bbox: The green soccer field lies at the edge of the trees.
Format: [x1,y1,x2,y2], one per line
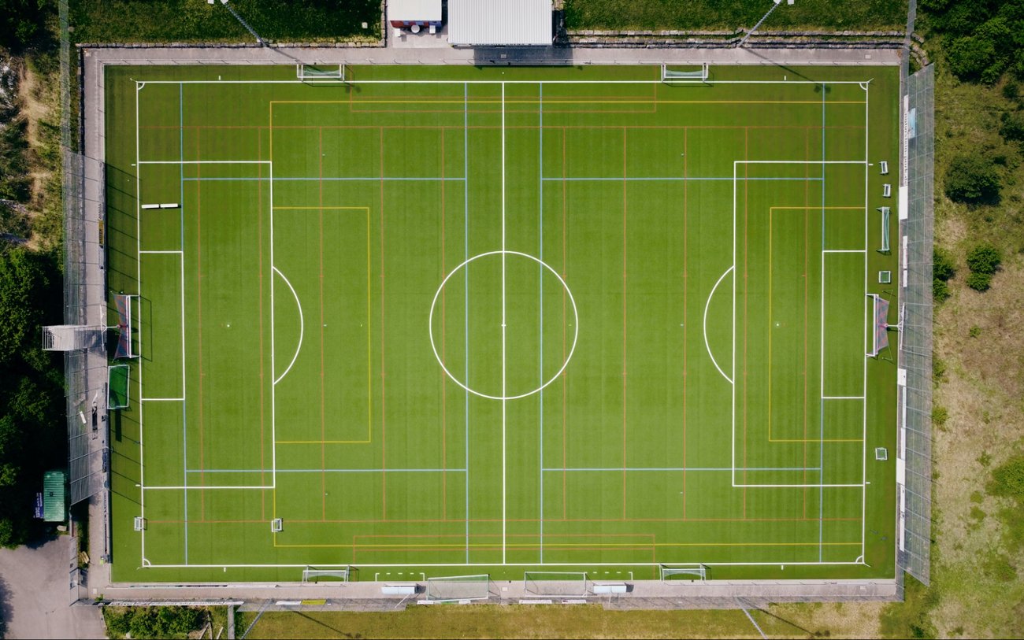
[104,65,899,583]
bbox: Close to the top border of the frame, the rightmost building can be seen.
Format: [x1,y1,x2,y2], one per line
[448,0,553,48]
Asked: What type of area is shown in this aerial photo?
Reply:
sports ground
